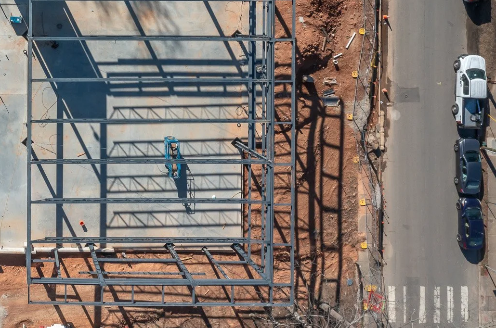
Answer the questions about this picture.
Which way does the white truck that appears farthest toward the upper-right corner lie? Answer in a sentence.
What the image shows is the white truck that appears farthest toward the upper-right corner lying up and down.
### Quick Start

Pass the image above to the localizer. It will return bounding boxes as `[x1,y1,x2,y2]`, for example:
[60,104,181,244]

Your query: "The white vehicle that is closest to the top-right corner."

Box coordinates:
[454,55,489,125]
